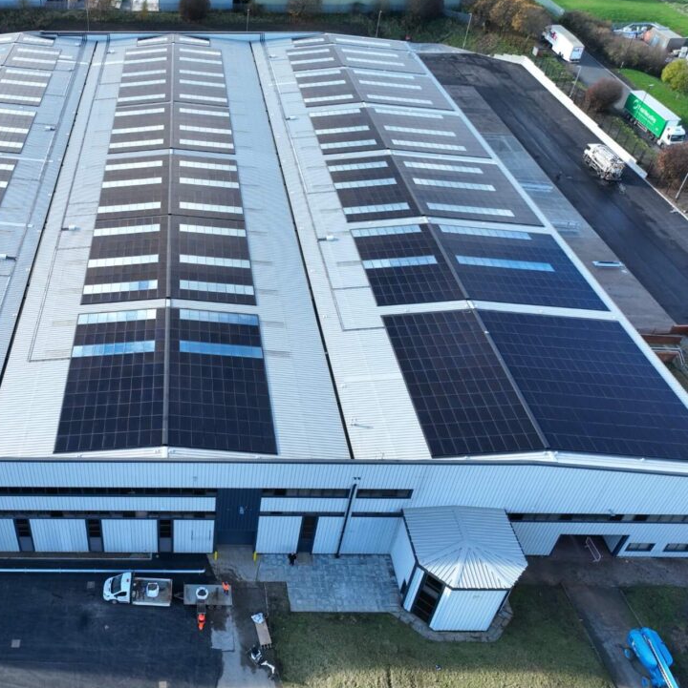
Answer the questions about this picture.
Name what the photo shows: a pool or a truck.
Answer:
truck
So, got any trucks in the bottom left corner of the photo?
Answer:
Yes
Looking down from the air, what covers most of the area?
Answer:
buildings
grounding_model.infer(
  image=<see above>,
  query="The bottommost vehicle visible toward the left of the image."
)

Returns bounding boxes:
[250,644,283,677]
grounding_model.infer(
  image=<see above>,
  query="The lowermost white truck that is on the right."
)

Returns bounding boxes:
[584,143,623,177]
